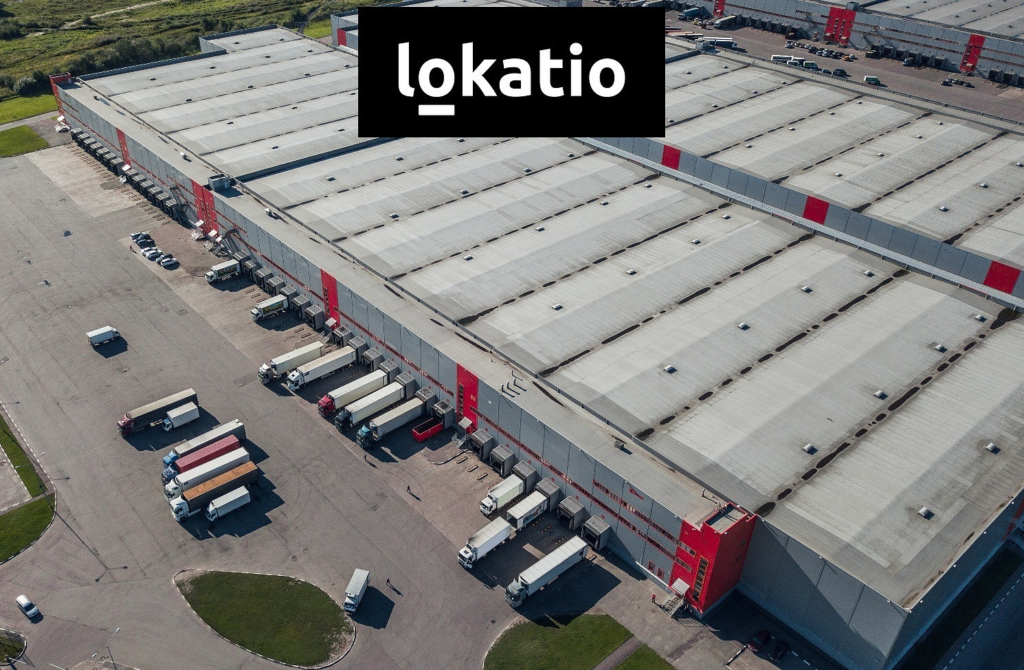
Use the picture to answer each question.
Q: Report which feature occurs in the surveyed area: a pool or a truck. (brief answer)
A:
truck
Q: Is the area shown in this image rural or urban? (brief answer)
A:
urban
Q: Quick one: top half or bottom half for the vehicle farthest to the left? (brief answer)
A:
bottom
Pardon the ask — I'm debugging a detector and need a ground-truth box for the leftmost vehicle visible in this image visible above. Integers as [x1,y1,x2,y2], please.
[16,589,41,617]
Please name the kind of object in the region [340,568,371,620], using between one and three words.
truck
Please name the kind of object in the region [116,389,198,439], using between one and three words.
truck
